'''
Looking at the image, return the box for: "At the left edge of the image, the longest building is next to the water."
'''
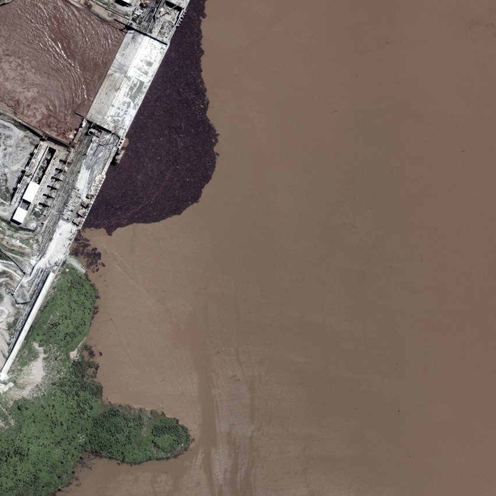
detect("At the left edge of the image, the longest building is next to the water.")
[3,142,70,225]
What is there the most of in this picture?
water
